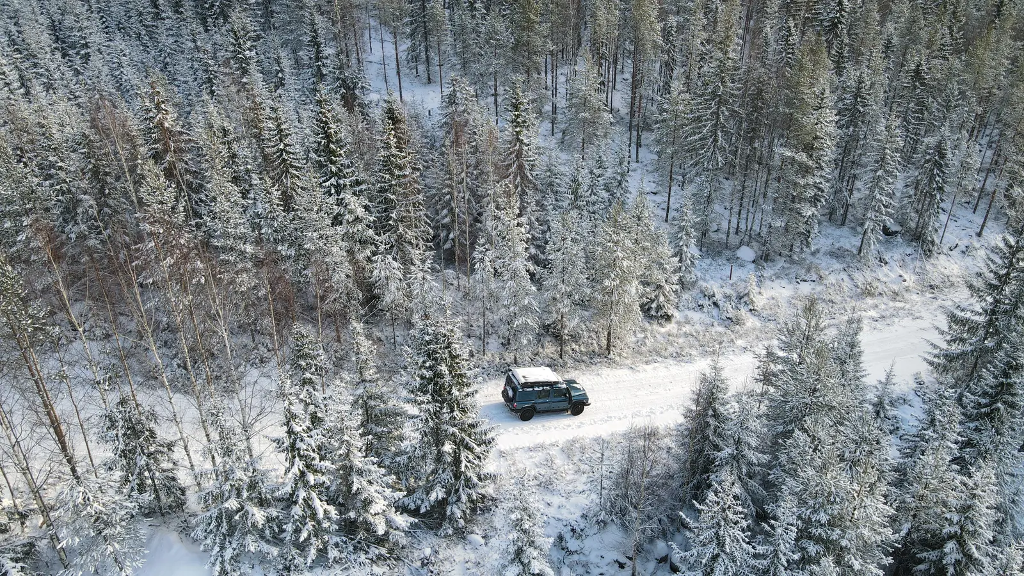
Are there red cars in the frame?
No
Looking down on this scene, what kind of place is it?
forest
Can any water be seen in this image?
No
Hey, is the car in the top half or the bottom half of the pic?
bottom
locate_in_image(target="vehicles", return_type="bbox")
[503,368,594,422]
